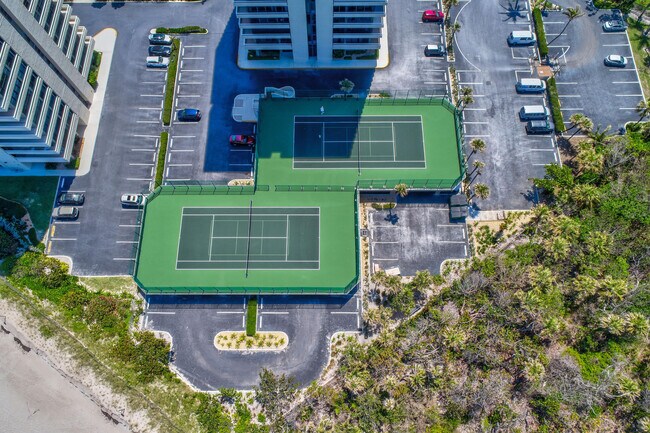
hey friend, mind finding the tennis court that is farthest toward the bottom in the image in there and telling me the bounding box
[133,187,359,293]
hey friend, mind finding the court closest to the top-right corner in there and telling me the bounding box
[252,98,465,189]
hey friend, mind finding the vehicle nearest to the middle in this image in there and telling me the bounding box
[229,135,253,147]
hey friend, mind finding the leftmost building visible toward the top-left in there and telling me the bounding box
[0,0,97,170]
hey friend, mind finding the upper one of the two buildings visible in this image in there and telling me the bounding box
[233,0,387,63]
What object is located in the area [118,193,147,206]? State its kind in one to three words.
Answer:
vehicle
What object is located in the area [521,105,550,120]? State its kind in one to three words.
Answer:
vehicle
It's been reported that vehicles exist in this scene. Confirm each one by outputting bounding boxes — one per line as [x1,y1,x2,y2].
[508,30,536,44]
[521,105,550,120]
[422,43,444,55]
[526,121,554,134]
[601,20,627,31]
[143,54,169,67]
[229,135,253,147]
[175,109,199,120]
[147,32,171,44]
[419,8,441,20]
[146,43,171,55]
[58,192,85,204]
[607,55,631,67]
[118,193,147,206]
[53,205,81,218]
[516,78,545,93]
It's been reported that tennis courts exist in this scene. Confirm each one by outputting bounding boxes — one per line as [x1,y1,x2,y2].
[252,98,465,189]
[133,187,359,293]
